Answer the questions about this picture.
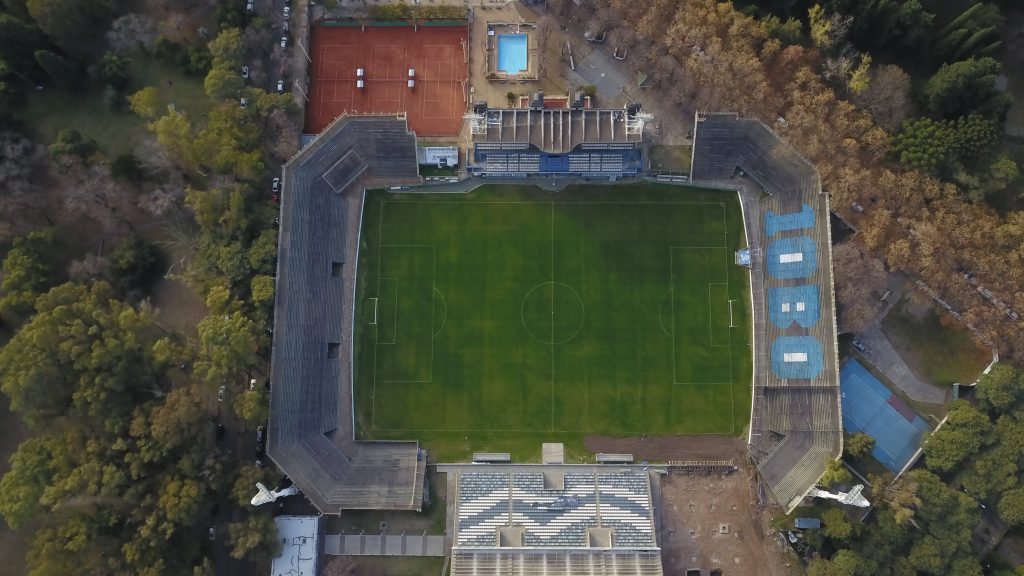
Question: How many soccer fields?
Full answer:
In total, there is 1 soccer field in the scene.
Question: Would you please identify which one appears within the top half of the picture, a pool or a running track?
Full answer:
You can see a pool within the top half of the picture.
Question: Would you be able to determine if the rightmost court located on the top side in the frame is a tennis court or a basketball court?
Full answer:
It turns out the rightmost court located on the top side is a tennis court.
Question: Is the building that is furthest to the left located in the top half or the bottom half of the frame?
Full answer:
Seen from above, the building that is furthest to the left lies in the bottom half of the view.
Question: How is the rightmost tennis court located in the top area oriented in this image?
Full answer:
The rightmost tennis court located in the top area runs vertically in the image.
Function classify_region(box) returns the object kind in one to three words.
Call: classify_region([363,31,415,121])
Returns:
tennis court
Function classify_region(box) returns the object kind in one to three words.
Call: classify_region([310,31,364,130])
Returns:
tennis court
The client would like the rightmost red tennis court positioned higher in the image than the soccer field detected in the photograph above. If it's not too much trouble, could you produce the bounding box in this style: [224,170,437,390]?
[414,31,465,130]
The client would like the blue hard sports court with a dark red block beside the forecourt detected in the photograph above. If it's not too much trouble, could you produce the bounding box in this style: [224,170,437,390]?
[839,358,928,468]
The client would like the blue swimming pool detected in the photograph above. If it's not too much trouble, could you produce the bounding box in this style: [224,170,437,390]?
[491,29,533,76]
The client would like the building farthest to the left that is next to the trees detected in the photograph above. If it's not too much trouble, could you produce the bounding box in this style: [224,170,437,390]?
[272,513,323,576]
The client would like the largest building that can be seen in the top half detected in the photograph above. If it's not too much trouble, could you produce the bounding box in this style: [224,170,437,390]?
[419,147,458,170]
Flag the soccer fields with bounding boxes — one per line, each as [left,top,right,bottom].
[352,186,750,465]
